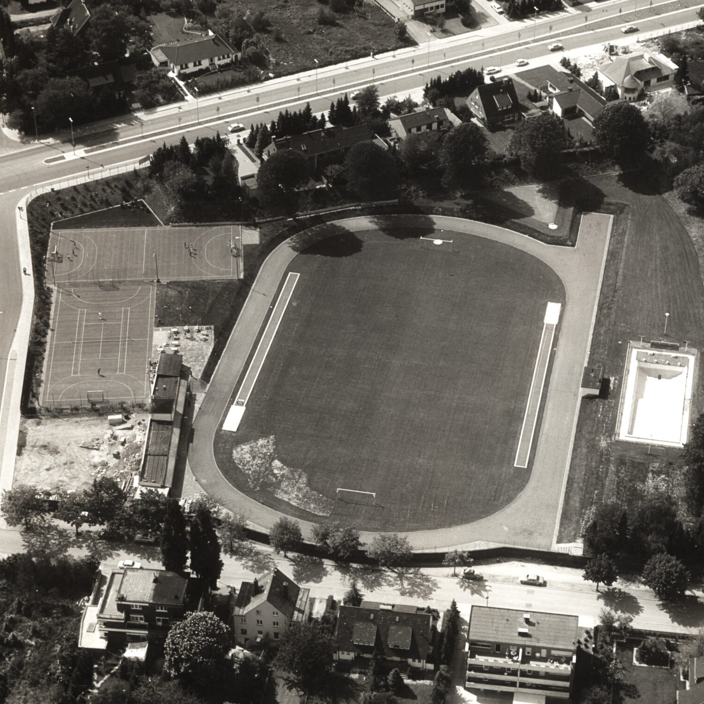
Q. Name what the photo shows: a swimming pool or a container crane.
swimming pool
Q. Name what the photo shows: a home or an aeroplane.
home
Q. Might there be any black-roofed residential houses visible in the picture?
Yes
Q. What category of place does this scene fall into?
sports ground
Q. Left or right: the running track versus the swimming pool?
on its left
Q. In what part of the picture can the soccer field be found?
center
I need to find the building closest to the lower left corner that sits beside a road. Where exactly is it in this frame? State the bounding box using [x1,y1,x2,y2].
[78,565,190,659]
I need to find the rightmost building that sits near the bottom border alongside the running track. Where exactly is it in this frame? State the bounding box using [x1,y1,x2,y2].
[464,605,578,704]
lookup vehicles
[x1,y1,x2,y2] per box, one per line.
[520,575,544,586]
[513,57,530,66]
[349,90,359,98]
[118,558,142,569]
[227,124,246,132]
[547,42,564,51]
[621,24,638,33]
[458,570,483,582]
[486,65,501,75]
[491,3,504,13]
